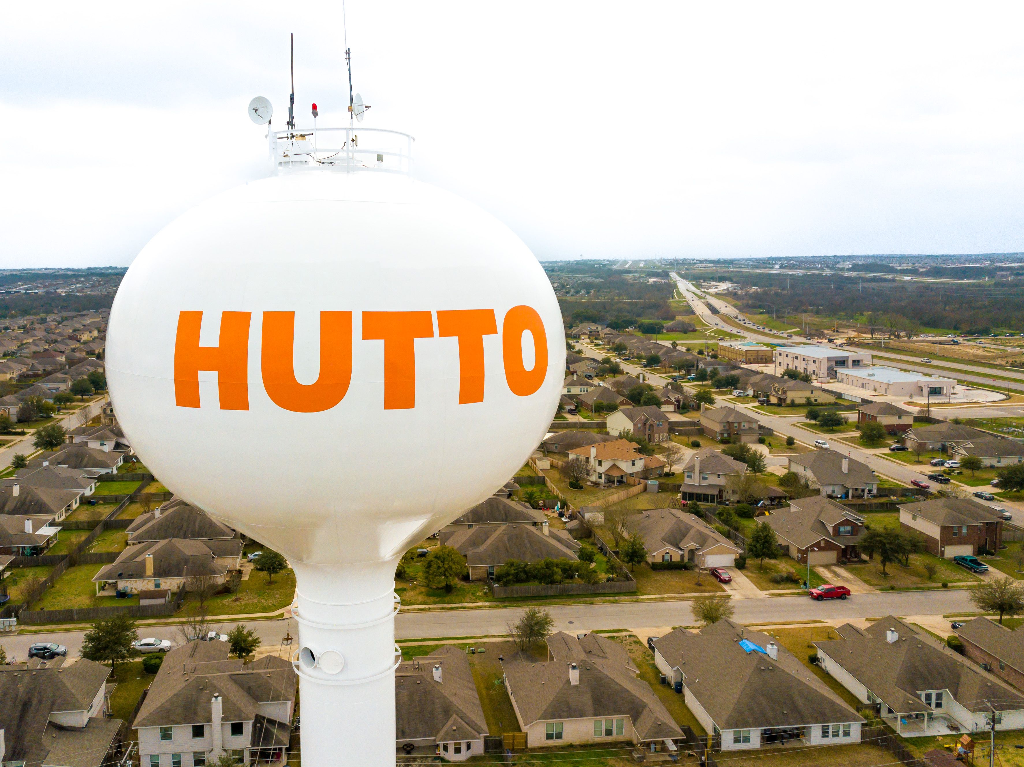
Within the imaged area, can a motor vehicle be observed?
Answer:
Yes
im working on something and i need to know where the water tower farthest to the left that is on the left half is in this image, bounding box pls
[105,127,565,767]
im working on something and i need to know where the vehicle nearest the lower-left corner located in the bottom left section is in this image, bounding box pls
[24,640,69,660]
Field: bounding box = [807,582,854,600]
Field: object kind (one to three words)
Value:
vehicle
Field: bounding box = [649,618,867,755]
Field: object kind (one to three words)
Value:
house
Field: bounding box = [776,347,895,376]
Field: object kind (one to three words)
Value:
building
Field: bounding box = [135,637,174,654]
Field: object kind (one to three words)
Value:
car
